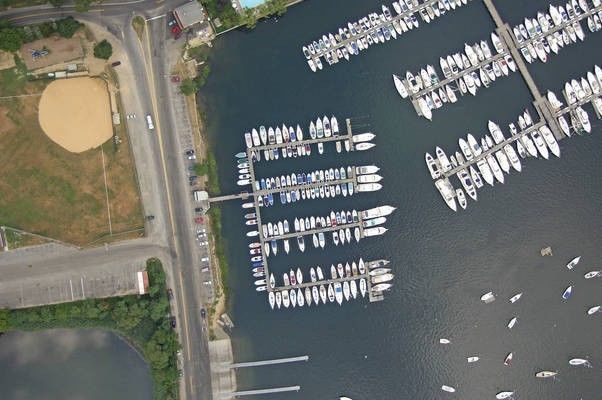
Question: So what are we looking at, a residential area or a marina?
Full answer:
It's a marina.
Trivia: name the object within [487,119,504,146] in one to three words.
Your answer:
boat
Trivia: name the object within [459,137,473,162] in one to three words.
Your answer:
boat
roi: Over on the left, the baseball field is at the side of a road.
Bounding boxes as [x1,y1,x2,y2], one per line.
[0,59,146,251]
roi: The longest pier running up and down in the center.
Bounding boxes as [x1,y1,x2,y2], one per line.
[248,147,270,294]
